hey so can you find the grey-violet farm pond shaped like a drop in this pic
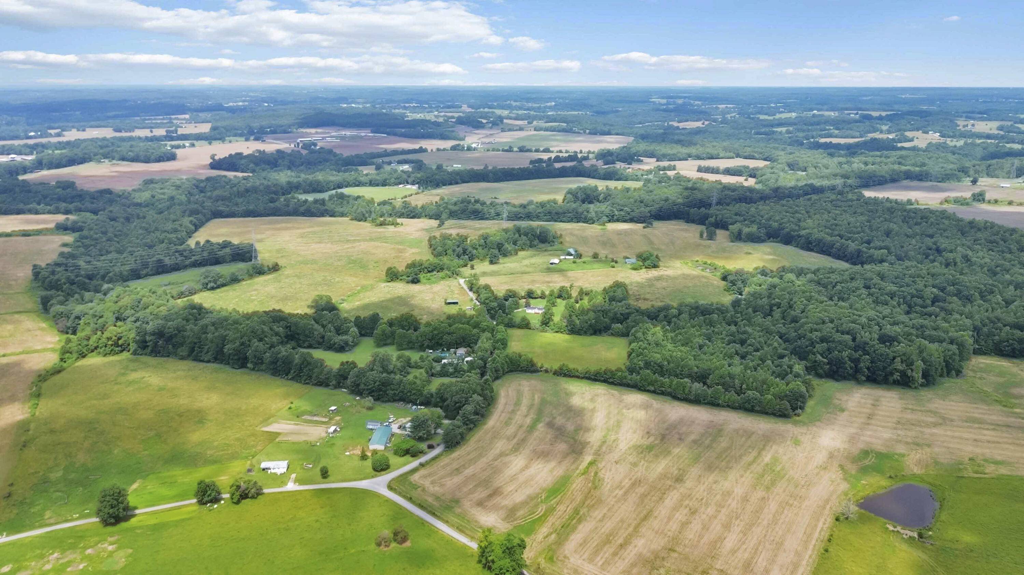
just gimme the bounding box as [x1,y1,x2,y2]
[856,483,940,527]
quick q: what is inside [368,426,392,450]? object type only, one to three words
building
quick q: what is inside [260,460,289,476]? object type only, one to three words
building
